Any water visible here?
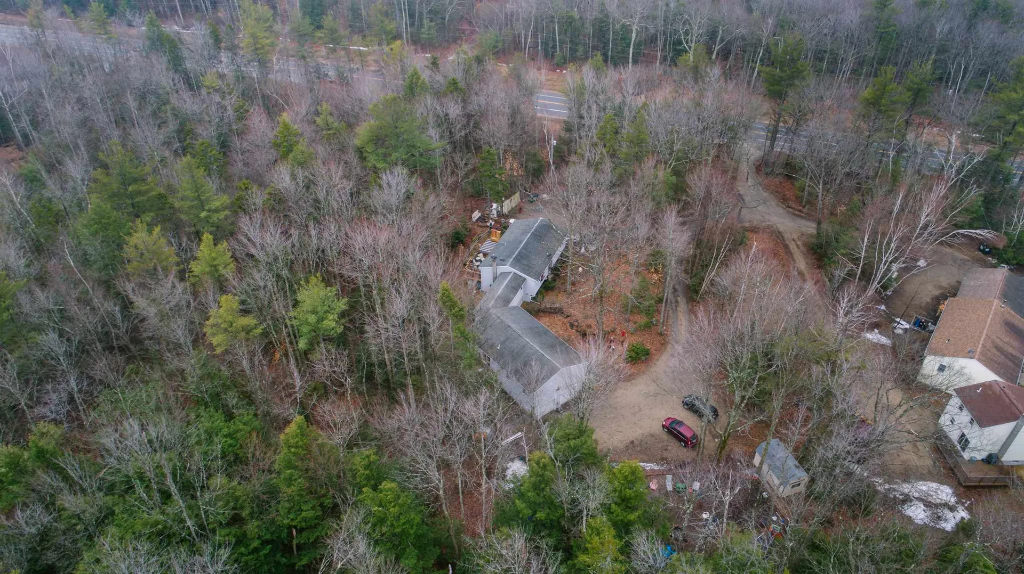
No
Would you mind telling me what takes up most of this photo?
trees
